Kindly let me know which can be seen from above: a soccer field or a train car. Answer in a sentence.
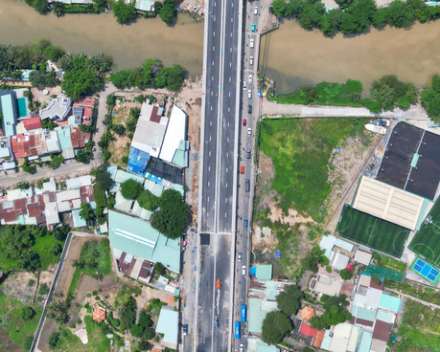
The one in the frame is a soccer field.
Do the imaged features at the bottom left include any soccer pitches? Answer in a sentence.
No, I see no soccer pitch at the bottom left.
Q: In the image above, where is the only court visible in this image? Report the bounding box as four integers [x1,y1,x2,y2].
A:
[410,256,440,285]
